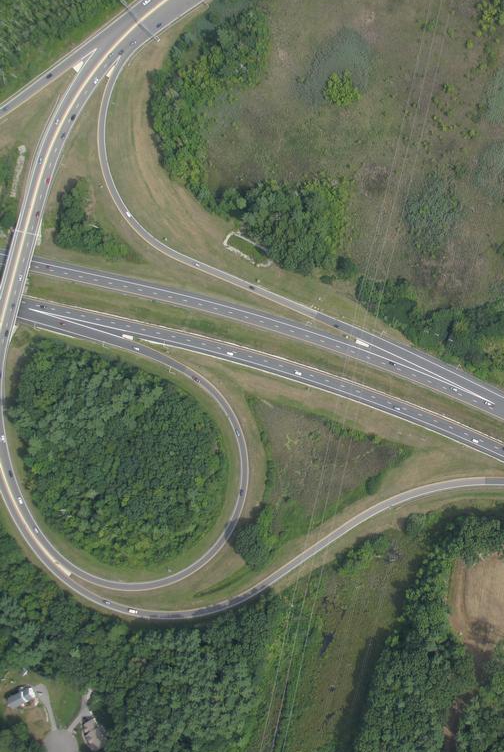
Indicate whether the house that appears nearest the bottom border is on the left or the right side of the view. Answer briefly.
left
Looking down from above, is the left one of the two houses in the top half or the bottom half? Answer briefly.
bottom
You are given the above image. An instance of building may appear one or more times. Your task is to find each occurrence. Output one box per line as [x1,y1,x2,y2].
[79,717,101,751]
[5,686,41,709]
